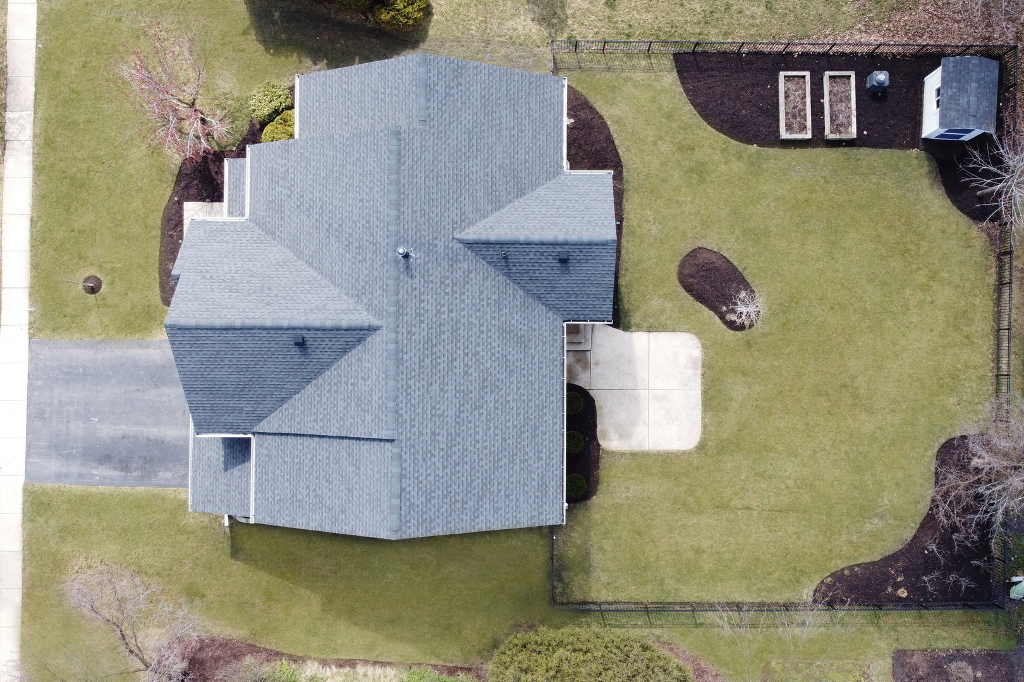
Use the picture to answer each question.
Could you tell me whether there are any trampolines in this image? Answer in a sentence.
No, the picture doesn't show any trampoline.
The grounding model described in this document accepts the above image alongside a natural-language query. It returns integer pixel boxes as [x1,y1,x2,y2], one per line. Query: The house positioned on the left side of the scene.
[166,55,616,539]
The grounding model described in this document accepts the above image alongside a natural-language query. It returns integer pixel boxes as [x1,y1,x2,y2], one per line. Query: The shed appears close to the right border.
[922,57,996,140]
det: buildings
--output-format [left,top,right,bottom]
[166,55,616,539]
[922,57,996,140]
